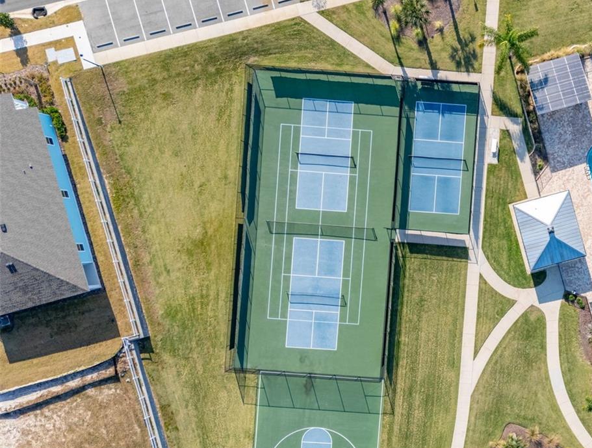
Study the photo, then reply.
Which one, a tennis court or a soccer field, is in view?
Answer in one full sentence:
Looking from above, you can make out a tennis court.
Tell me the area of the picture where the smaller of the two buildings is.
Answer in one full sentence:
The smaller of the two buildings is located in the right region of the scene.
